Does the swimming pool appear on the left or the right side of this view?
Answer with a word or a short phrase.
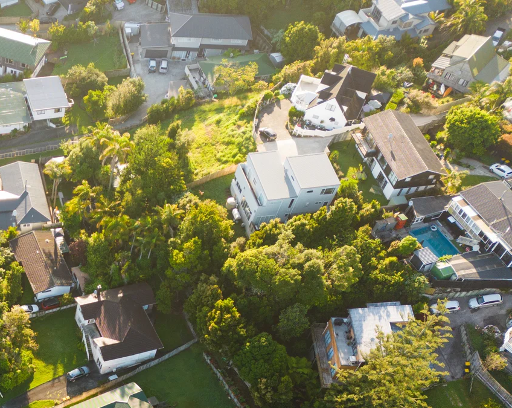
right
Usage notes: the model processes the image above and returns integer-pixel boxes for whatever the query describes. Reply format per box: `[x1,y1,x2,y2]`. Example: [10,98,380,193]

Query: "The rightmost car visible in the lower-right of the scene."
[473,294,499,308]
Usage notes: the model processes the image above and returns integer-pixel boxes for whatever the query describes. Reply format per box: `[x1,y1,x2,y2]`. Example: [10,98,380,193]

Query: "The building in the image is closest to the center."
[232,151,340,223]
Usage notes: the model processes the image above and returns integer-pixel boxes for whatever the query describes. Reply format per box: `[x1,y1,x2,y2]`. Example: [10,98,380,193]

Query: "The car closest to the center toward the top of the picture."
[258,129,278,142]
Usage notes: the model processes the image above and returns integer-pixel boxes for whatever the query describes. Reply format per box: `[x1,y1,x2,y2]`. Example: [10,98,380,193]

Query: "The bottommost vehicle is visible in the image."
[65,366,91,382]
